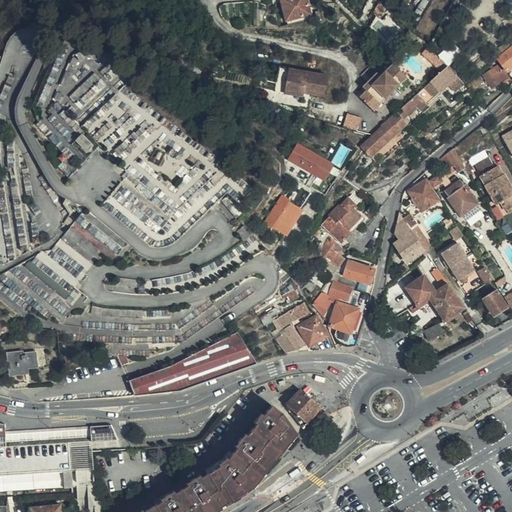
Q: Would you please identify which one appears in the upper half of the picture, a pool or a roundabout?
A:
pool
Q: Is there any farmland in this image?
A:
No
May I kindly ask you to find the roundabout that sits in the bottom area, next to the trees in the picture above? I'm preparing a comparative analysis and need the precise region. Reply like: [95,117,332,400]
[349,366,425,442]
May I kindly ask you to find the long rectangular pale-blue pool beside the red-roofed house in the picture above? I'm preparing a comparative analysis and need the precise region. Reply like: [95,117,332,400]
[332,146,352,169]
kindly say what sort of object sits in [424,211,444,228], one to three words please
swimming pool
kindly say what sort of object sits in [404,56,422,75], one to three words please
swimming pool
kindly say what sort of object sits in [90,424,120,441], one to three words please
building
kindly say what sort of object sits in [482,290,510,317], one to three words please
house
